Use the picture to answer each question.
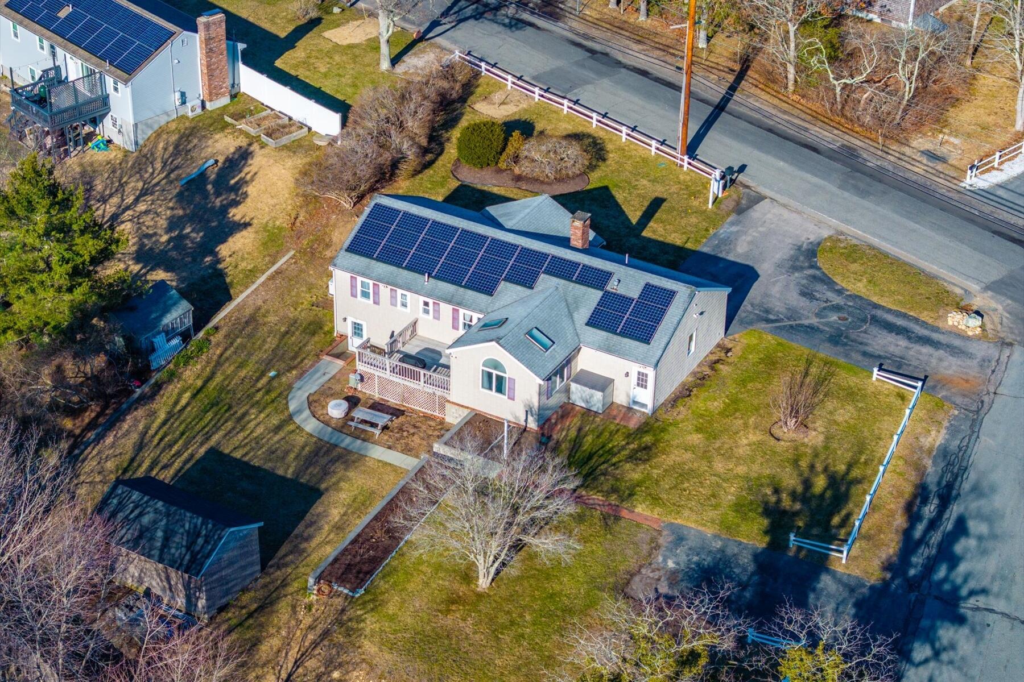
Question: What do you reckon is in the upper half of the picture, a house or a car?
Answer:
house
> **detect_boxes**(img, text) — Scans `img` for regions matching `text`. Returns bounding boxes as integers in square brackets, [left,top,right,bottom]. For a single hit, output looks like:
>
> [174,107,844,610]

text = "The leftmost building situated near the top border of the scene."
[0,0,247,160]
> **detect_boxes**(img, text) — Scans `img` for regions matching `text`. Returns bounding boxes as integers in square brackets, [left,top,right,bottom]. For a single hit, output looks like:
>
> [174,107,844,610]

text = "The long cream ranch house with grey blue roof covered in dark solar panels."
[328,191,733,431]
